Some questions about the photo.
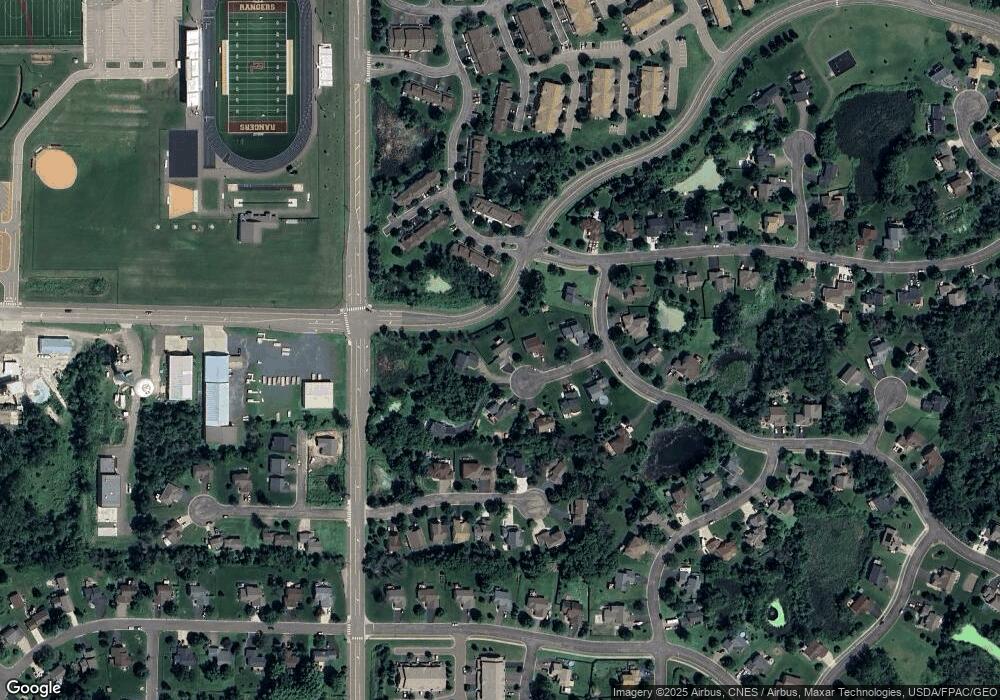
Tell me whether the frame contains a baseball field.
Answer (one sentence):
Yes, I can see a baseball field in this picture.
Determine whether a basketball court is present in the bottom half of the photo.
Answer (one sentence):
No, no basketball court appears in the bottom half of the photo.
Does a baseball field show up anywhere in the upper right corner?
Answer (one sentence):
No, in the upper right corner there is no baseball field.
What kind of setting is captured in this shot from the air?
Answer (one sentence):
This looks like a residential area.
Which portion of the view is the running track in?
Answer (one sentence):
The running track sits in the top left section of the image.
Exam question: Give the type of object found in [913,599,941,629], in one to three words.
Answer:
house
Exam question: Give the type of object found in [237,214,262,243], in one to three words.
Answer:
shed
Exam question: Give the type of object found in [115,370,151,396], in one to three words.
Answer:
water tower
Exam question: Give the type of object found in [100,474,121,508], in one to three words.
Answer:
building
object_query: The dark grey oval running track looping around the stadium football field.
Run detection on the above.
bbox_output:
[203,0,311,172]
